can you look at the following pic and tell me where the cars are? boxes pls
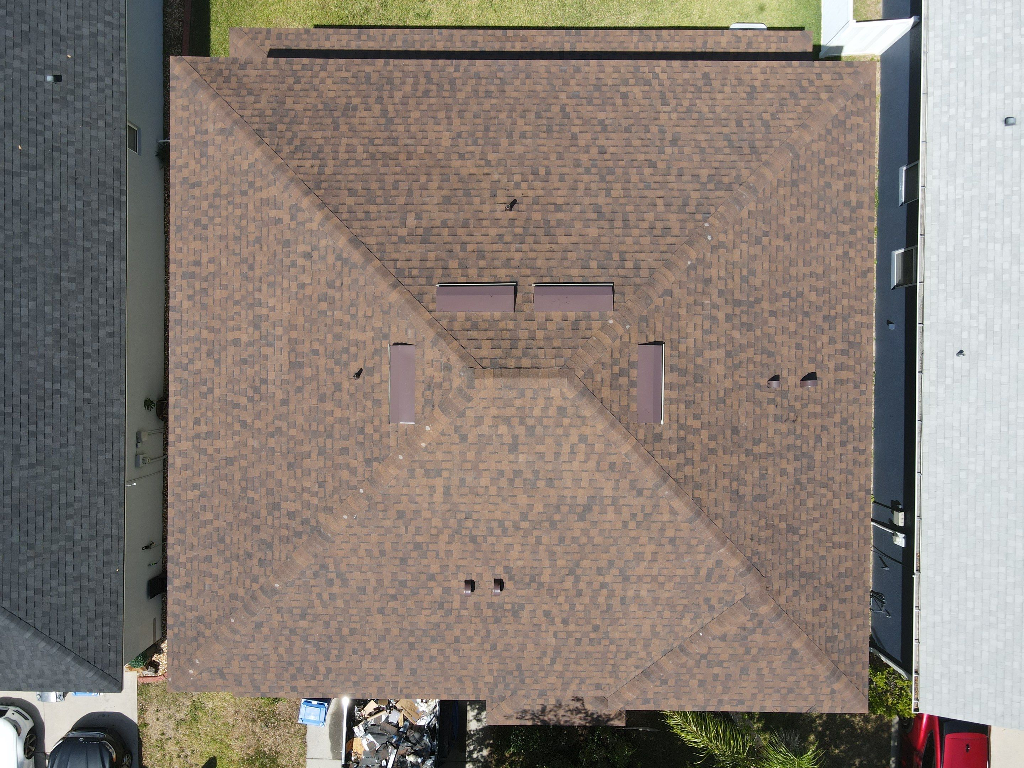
[49,726,137,768]
[0,708,41,768]
[891,681,993,768]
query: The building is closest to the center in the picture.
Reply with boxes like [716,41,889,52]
[166,26,877,727]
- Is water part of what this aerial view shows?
No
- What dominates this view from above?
buildings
